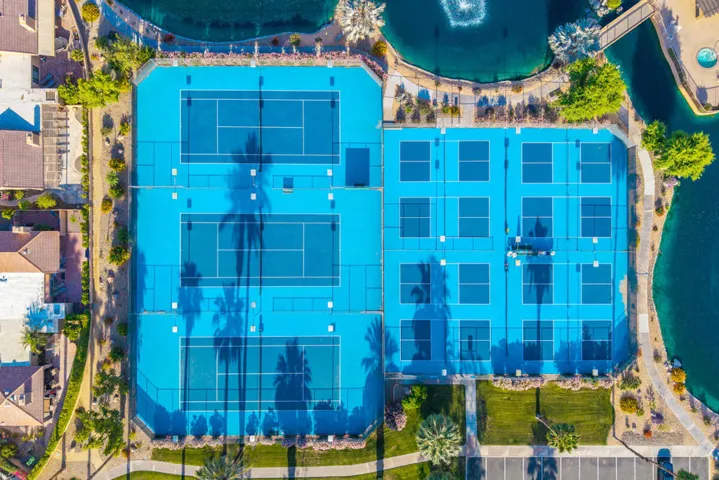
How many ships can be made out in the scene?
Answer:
0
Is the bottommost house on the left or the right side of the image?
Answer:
left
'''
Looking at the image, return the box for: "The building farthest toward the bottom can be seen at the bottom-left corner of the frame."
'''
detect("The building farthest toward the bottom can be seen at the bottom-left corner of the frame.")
[0,365,51,425]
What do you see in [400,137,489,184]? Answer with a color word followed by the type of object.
blue sports court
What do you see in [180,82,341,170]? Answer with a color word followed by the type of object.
blue tennis court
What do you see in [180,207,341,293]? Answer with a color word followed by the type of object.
blue tennis court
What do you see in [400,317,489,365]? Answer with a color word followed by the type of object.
blue sports court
